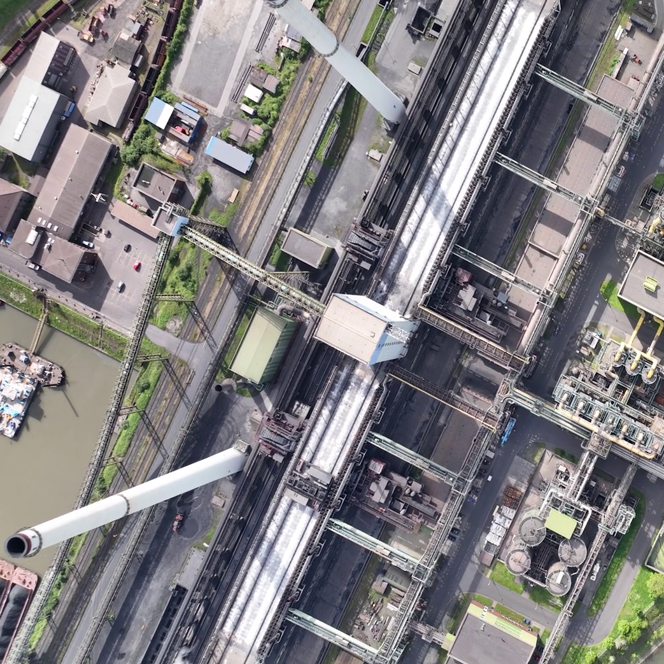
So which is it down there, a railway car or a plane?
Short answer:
railway car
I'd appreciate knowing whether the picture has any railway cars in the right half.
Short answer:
No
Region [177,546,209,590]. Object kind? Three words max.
house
